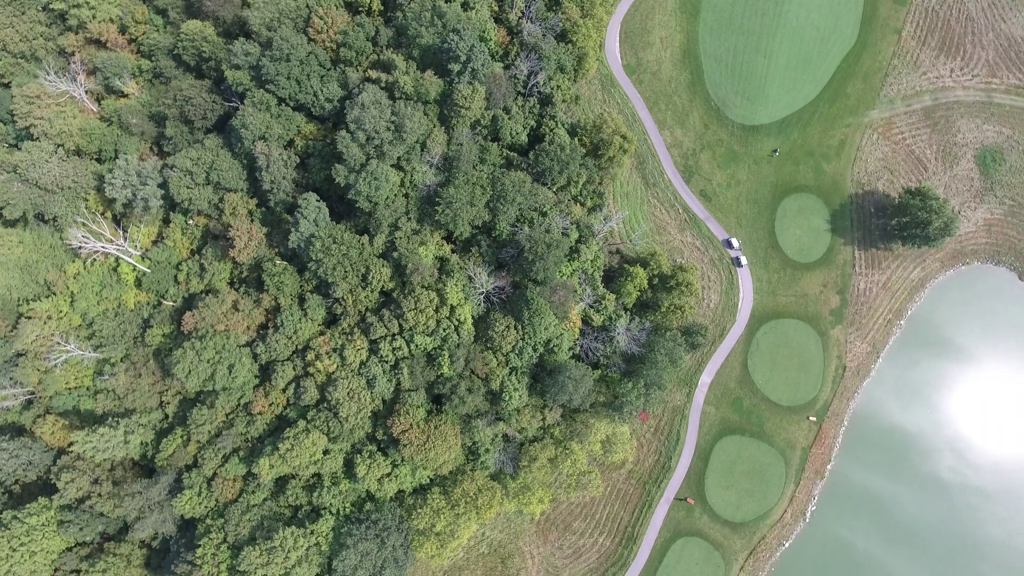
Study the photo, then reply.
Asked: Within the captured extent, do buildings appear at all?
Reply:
No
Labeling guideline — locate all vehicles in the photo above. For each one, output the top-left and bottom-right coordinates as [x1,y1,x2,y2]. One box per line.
[728,238,741,251]
[736,255,748,268]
